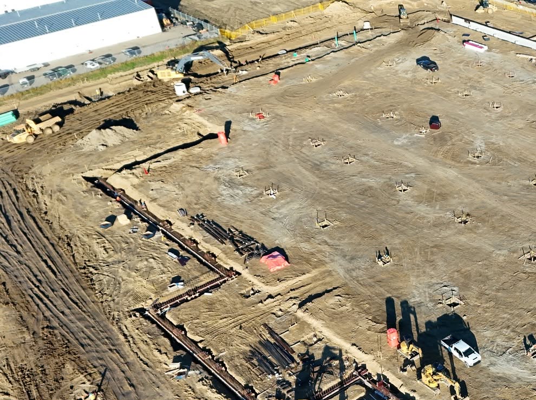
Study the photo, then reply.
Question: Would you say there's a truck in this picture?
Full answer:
Yes, this view includes a truck.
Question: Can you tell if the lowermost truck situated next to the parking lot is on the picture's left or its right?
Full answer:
The lowermost truck situated next to the parking lot is on the left side of the image.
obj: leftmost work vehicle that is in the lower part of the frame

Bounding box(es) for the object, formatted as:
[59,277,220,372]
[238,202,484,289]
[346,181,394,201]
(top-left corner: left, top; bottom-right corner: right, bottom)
[400,340,420,366]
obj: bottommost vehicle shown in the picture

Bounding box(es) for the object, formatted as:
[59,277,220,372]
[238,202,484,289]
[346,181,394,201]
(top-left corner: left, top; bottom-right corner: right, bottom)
[420,362,461,400]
